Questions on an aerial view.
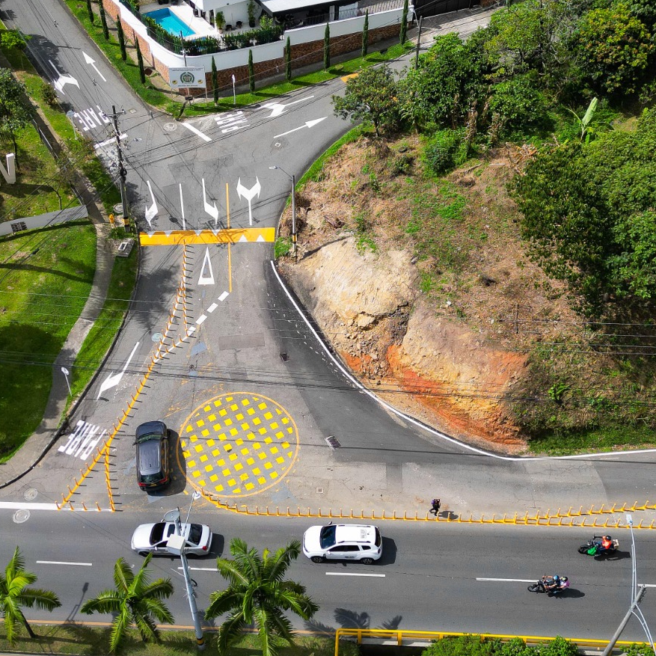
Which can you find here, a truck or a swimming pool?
swimming pool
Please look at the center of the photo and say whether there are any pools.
No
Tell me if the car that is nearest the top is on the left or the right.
left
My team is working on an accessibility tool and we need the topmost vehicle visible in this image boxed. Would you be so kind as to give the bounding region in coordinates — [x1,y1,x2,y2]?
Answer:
[131,416,172,489]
